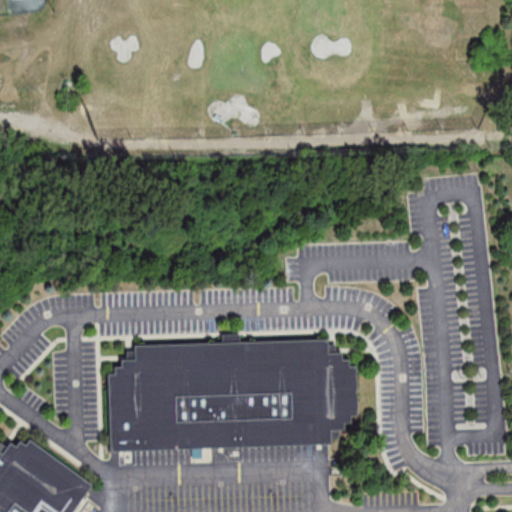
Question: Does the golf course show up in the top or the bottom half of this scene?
top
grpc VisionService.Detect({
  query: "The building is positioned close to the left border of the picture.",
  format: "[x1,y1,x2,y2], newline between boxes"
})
[0,442,94,512]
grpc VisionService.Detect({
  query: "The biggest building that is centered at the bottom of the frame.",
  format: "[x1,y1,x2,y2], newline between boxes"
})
[108,334,358,453]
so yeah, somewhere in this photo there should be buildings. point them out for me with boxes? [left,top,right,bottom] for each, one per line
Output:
[108,334,358,453]
[0,442,94,512]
